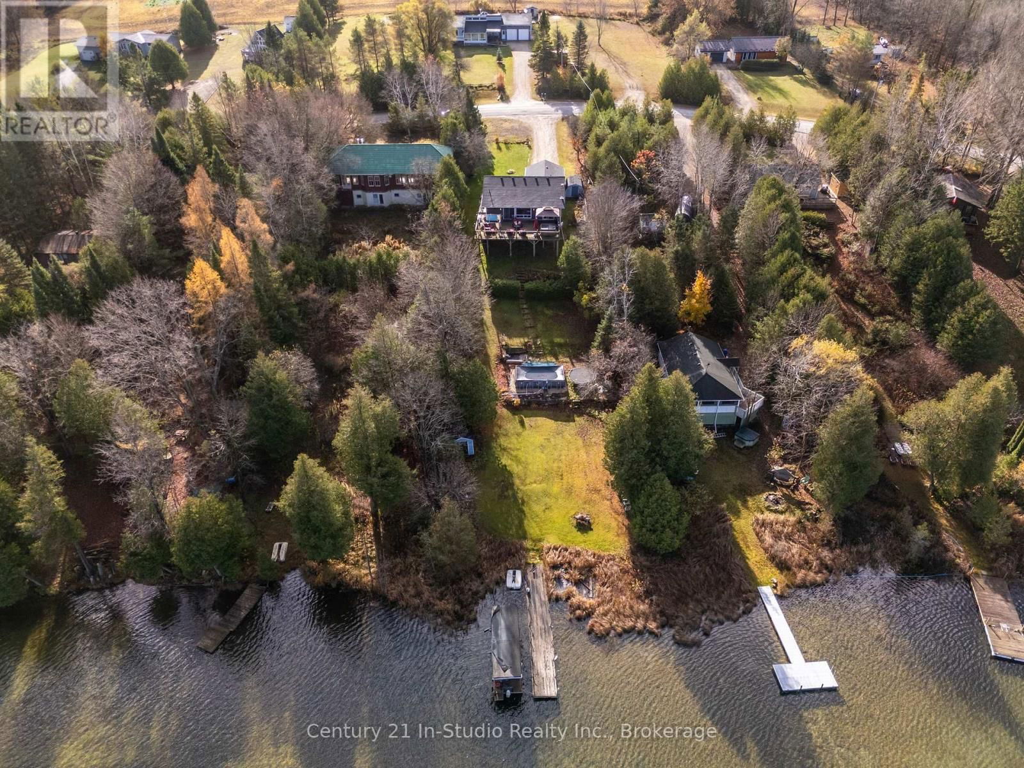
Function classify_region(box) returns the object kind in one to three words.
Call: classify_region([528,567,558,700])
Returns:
pier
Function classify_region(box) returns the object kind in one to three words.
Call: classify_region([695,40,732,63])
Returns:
building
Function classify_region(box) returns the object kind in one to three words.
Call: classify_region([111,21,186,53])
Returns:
house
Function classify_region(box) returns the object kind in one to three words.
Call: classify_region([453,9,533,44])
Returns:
house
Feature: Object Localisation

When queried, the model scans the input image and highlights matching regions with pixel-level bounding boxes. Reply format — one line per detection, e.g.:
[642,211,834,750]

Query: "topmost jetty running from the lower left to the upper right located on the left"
[209,583,266,633]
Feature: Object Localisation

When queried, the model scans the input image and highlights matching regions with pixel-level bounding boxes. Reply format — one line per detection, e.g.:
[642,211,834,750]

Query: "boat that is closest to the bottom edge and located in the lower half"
[484,609,523,705]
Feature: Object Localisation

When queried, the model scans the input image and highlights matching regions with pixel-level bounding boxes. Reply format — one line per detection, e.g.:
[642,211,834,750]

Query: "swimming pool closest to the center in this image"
[514,366,567,393]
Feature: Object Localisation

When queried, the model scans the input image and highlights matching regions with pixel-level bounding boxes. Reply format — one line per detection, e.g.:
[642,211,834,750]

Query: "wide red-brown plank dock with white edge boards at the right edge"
[969,575,1024,665]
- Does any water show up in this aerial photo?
Yes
